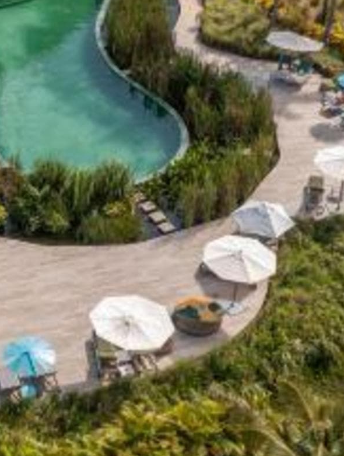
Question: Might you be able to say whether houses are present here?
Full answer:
No, there is no house in the image.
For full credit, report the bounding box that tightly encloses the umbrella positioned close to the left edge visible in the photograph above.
[1,342,56,410]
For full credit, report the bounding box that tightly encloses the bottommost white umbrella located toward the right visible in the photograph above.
[202,237,279,314]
